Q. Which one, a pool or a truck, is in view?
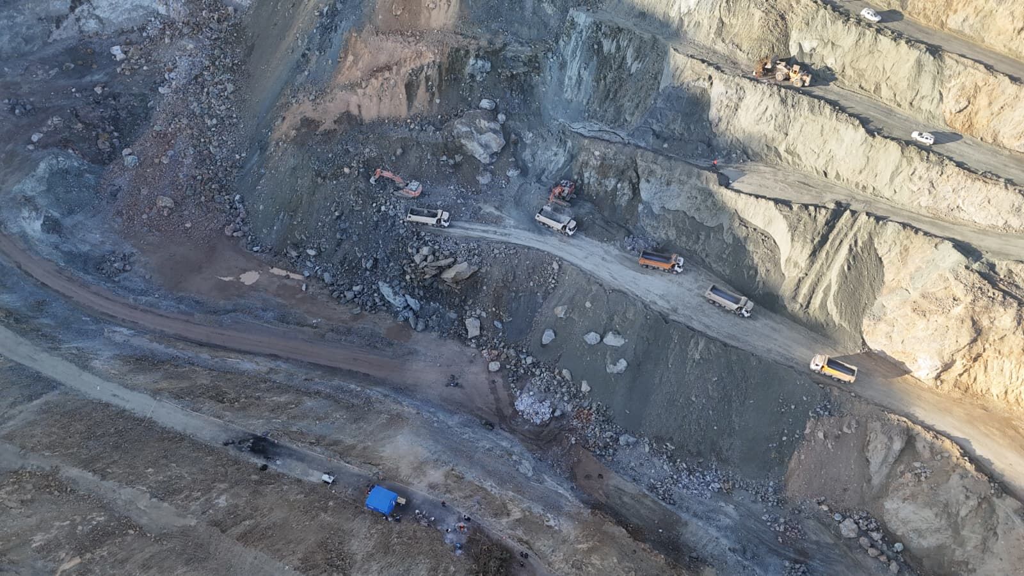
truck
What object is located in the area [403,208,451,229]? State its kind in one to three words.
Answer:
truck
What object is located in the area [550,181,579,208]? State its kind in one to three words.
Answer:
work vehicle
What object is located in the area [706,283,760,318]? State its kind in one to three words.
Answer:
truck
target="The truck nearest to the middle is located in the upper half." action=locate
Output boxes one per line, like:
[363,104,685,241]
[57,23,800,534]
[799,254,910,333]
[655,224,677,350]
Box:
[534,205,580,237]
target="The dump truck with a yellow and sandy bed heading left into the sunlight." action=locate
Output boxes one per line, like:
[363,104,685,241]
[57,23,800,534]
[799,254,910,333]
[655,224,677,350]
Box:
[806,351,868,386]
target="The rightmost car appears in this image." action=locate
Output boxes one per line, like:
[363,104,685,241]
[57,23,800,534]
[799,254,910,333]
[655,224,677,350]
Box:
[910,131,940,146]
